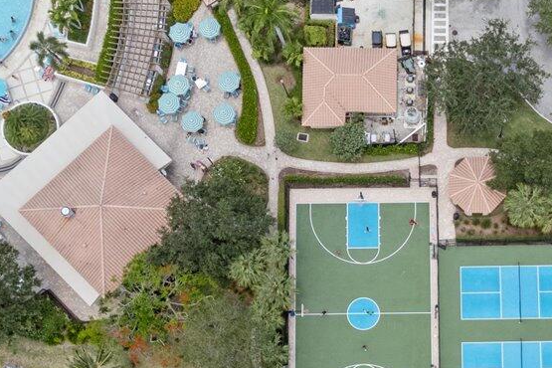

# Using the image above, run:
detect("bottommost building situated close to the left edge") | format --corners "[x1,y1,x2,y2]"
[0,92,196,305]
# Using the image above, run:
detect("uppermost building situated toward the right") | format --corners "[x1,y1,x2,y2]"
[302,47,397,133]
